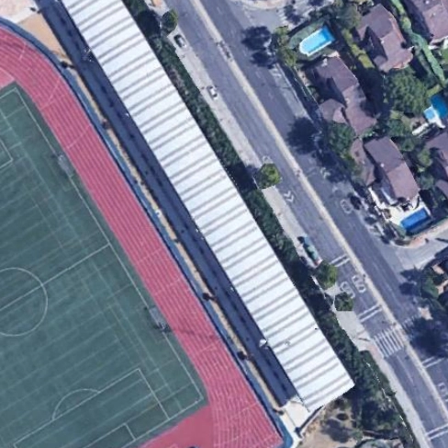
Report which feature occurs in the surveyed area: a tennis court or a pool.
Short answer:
pool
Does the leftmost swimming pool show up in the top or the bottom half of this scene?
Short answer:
top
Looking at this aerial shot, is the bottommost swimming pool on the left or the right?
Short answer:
right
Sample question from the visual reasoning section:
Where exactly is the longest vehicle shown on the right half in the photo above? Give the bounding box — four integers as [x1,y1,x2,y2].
[303,236,323,262]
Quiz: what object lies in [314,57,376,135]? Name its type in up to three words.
house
